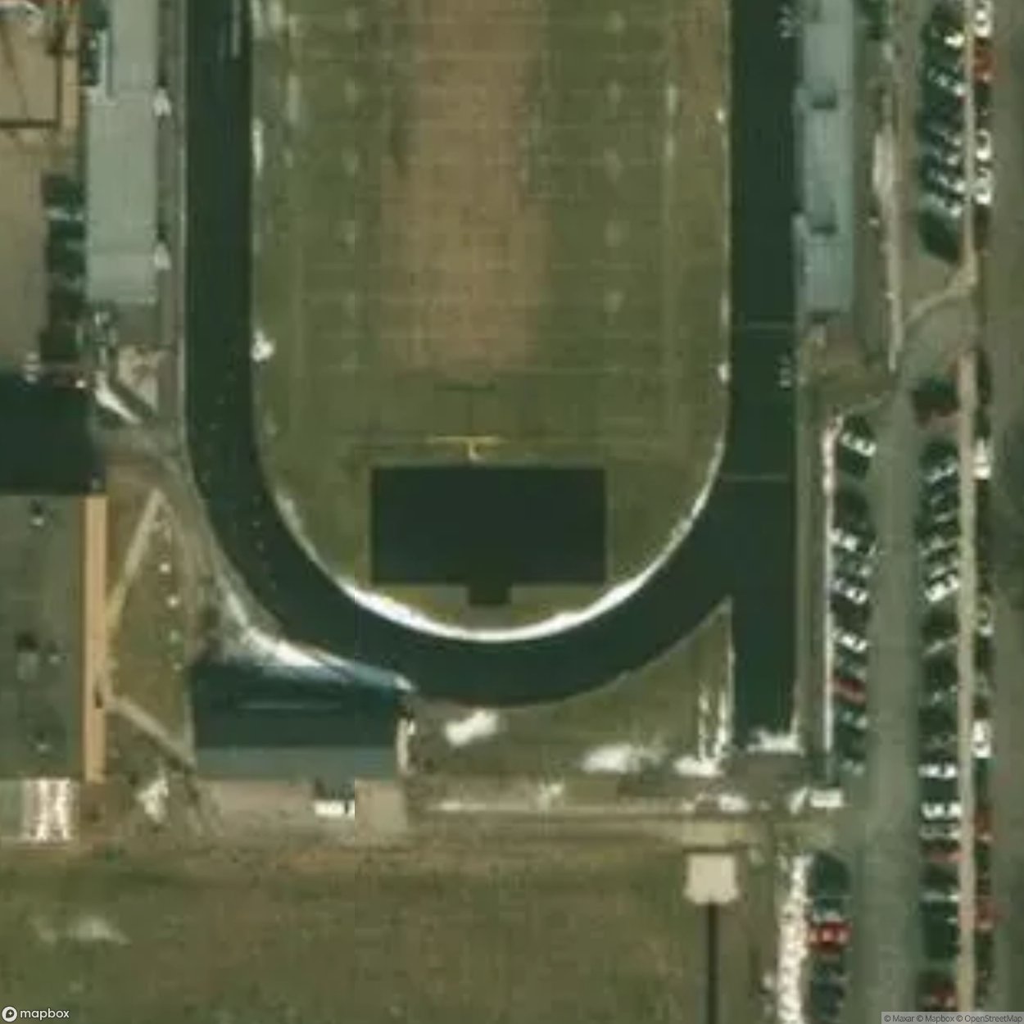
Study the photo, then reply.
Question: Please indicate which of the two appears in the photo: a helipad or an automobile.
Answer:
automobile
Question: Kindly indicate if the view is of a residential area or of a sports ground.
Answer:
sports ground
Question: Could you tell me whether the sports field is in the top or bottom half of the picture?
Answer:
top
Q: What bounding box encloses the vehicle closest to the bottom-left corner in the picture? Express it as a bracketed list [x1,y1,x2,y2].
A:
[315,798,359,817]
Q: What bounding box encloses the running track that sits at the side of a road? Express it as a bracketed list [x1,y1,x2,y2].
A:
[186,0,796,744]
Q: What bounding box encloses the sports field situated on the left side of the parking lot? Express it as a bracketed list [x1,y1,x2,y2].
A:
[255,0,727,629]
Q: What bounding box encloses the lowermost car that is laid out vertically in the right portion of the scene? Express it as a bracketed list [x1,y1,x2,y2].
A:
[976,976,993,1015]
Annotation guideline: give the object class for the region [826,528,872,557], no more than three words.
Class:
truck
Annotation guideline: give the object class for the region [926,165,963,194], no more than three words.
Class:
car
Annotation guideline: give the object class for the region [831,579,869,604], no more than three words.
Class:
car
